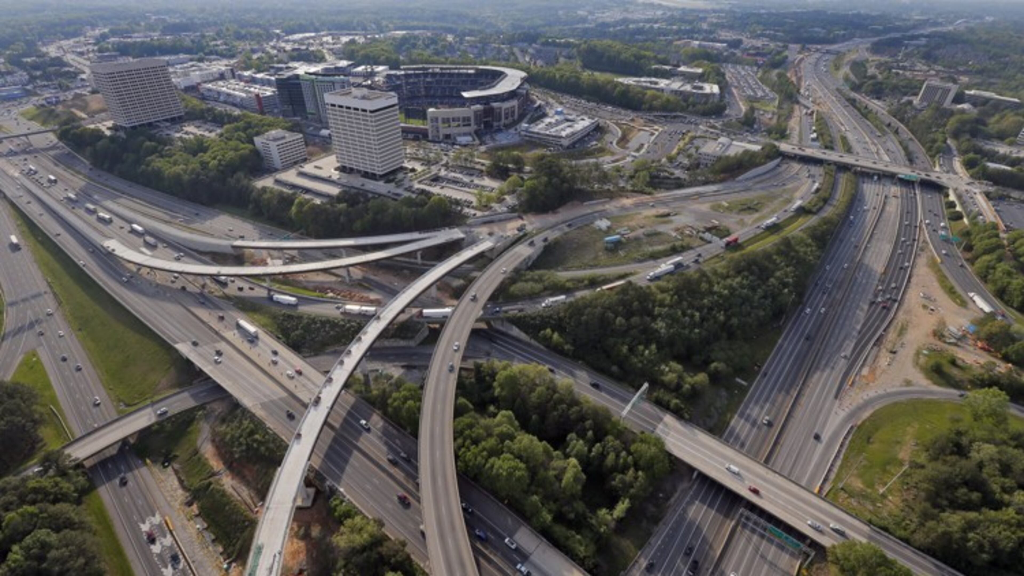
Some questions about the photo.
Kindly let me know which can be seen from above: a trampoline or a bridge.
bridge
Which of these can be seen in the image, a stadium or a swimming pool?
stadium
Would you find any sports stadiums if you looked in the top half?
Yes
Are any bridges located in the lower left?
Yes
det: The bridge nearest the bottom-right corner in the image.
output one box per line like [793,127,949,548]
[656,416,848,550]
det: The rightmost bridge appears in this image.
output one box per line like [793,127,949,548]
[761,140,964,192]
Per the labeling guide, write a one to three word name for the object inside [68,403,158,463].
bridge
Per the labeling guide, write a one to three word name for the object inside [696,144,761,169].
building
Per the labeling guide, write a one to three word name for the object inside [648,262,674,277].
vehicle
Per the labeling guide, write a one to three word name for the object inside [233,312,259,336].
truck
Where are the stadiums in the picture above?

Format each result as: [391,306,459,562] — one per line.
[363,65,529,139]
